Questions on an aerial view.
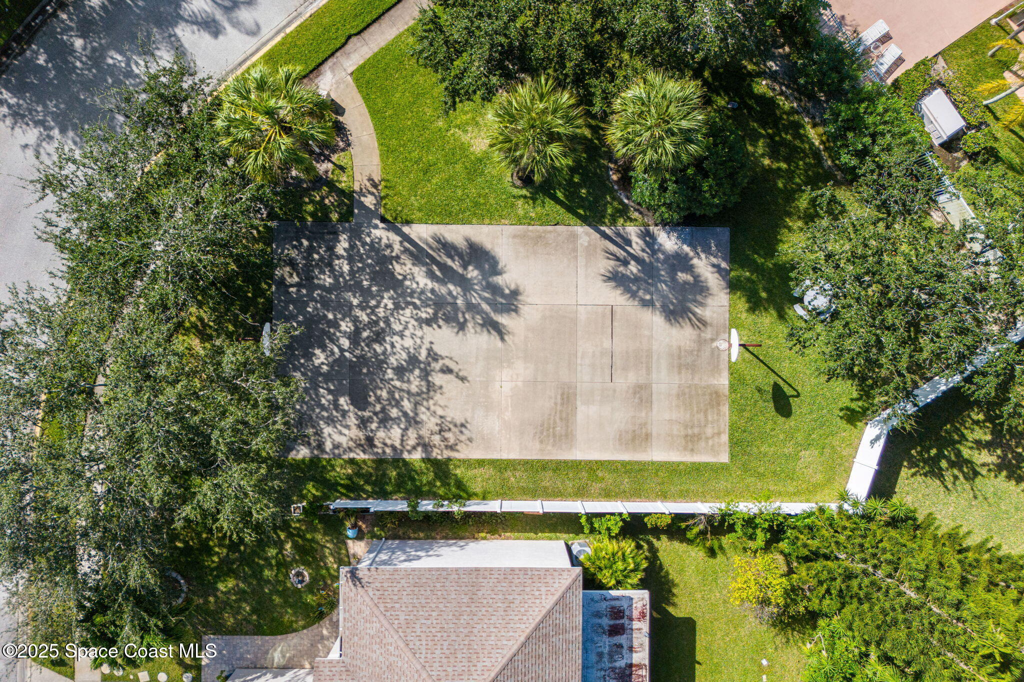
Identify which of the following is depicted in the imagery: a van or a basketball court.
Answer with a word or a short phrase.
basketball court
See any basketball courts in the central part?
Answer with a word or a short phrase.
Yes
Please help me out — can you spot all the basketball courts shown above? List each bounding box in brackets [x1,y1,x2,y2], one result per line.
[272,222,729,462]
